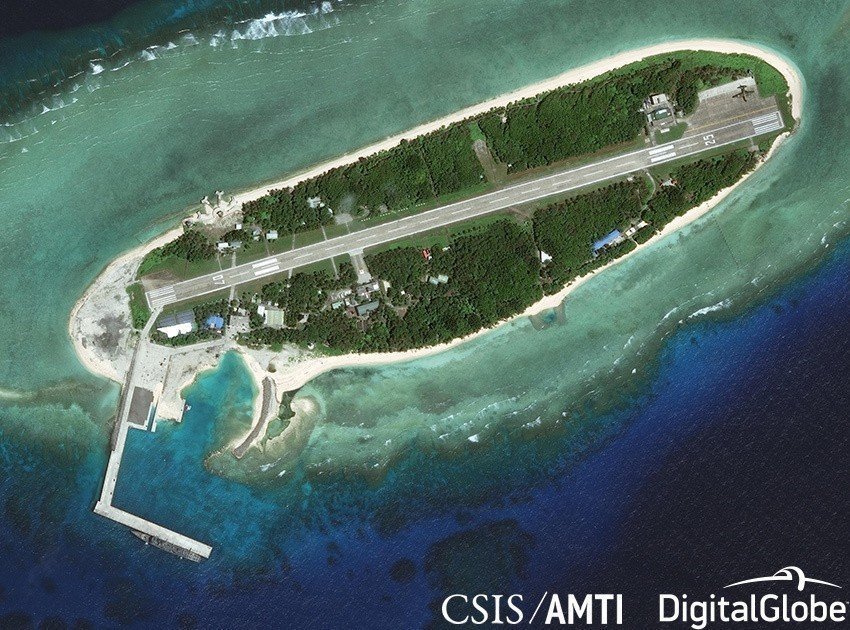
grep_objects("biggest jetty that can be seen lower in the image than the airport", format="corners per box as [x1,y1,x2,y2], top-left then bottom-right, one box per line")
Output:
[94,427,212,558]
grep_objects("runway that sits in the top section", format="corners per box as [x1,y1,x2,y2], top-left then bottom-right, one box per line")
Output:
[147,111,784,309]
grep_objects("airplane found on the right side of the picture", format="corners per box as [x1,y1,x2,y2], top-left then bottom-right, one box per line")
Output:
[733,85,755,102]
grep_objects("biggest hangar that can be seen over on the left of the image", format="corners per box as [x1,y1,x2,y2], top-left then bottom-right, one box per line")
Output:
[156,312,194,339]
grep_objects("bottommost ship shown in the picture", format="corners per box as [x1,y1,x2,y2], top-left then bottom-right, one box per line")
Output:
[131,531,201,563]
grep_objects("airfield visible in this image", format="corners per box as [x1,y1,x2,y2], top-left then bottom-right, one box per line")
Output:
[147,77,784,309]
